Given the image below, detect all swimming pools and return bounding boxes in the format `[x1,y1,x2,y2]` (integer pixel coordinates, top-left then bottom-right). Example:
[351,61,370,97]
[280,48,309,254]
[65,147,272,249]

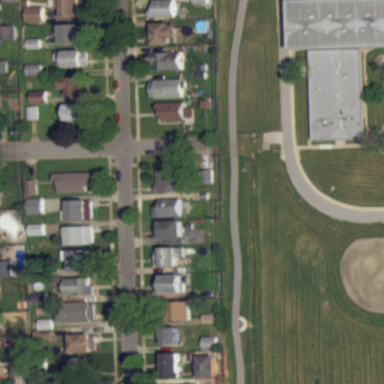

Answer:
[196,20,210,32]
[34,281,44,292]
[0,212,22,242]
